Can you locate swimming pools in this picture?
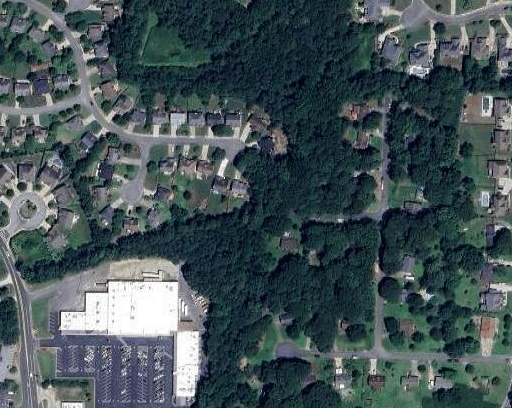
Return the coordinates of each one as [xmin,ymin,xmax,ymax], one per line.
[482,191,490,205]
[483,96,492,114]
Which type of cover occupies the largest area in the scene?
trees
